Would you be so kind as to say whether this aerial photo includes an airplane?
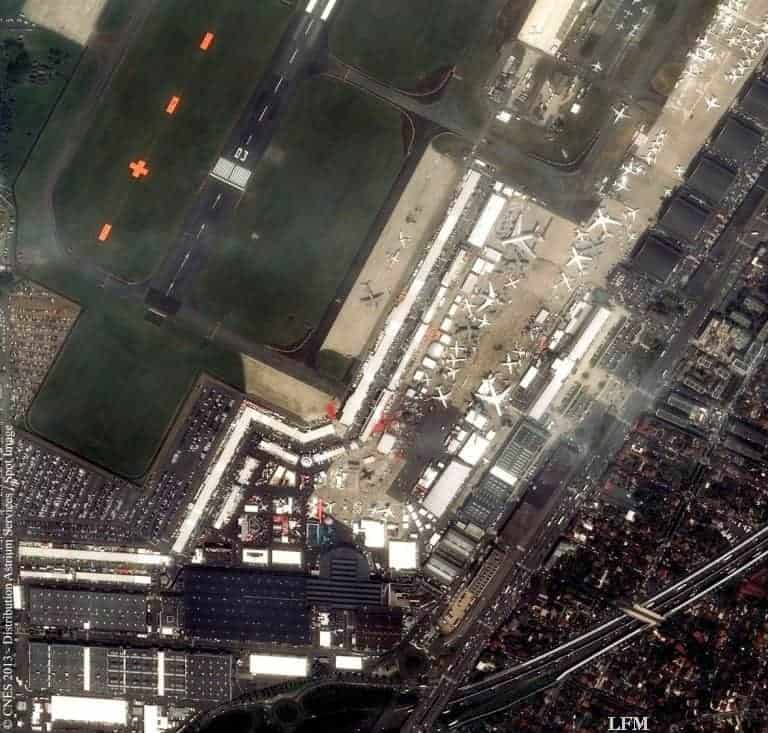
Yes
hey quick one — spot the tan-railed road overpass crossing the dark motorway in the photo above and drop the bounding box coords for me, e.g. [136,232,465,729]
[592,590,697,638]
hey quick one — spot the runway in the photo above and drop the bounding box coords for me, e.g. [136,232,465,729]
[145,0,346,317]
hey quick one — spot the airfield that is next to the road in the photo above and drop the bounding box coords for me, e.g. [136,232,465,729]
[0,0,768,542]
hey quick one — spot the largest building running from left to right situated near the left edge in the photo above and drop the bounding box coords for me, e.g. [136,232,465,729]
[26,645,232,704]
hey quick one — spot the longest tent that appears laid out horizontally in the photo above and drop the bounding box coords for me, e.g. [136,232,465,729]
[19,547,166,565]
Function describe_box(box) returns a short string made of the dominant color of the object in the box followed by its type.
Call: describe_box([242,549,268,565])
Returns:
white tent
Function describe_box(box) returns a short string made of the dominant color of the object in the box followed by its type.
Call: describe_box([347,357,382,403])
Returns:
white tent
